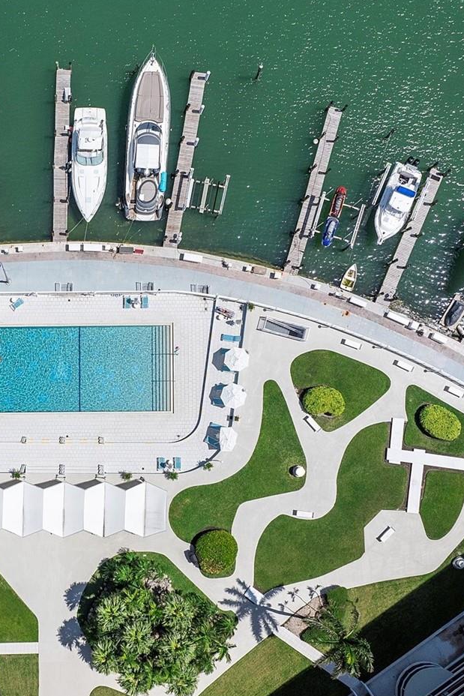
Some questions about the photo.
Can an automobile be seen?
No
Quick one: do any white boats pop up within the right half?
Yes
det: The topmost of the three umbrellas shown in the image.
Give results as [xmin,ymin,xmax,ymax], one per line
[223,347,248,373]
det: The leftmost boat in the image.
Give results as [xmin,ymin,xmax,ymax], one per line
[69,107,108,225]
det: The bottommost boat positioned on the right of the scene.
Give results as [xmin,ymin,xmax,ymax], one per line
[340,265,357,292]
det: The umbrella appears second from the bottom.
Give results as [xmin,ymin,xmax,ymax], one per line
[221,383,246,409]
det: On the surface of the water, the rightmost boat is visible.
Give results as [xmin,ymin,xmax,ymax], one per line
[373,156,422,247]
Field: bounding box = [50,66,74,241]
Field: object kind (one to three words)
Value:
pier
